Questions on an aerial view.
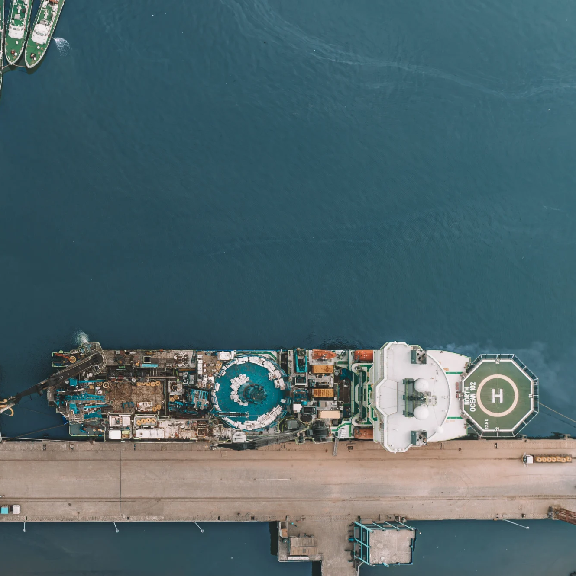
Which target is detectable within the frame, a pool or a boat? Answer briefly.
boat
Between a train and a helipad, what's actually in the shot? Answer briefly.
helipad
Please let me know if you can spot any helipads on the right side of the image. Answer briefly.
Yes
